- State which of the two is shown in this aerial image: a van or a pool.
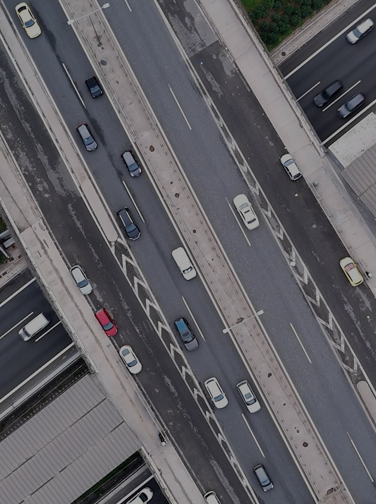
van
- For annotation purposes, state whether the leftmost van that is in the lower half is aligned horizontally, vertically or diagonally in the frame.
diagonally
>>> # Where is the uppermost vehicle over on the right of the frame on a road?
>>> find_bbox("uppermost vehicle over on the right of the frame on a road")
[345,17,376,46]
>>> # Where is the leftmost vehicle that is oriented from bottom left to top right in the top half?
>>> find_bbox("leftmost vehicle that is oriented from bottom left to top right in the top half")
[311,76,347,110]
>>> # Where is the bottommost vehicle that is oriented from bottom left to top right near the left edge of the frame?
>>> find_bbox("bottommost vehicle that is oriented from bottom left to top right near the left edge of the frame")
[17,311,53,343]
